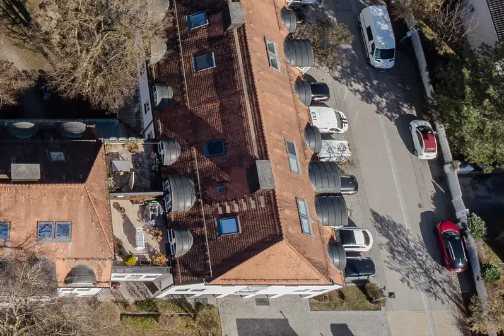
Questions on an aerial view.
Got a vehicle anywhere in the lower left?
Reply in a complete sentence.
No, in the lower left there is no vehicle.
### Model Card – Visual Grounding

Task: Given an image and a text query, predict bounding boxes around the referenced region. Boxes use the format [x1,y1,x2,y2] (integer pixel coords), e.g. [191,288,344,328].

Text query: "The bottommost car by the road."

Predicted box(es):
[344,258,388,285]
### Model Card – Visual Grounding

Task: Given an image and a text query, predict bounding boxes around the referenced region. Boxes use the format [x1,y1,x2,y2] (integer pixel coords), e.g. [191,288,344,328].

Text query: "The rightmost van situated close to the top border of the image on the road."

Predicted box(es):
[356,4,393,75]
